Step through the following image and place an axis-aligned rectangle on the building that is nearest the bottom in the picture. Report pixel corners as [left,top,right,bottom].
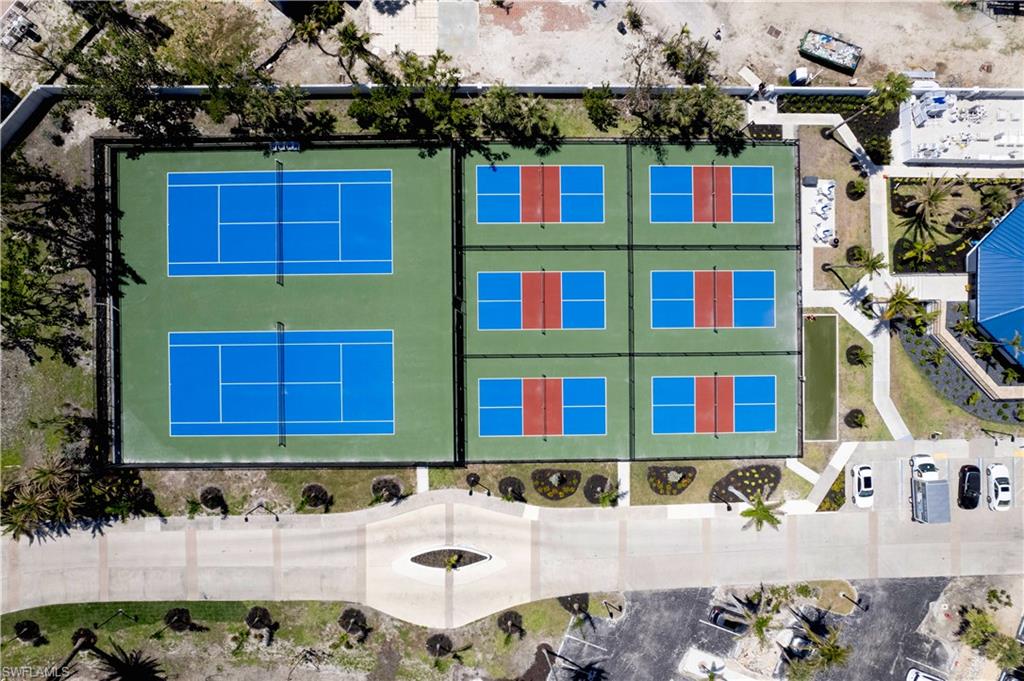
[952,192,1024,369]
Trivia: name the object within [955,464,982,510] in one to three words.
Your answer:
car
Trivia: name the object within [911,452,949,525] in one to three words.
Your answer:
truck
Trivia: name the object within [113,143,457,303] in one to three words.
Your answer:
tennis court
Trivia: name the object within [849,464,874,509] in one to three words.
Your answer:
car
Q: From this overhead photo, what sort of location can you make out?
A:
sports ground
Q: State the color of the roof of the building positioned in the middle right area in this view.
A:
blue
